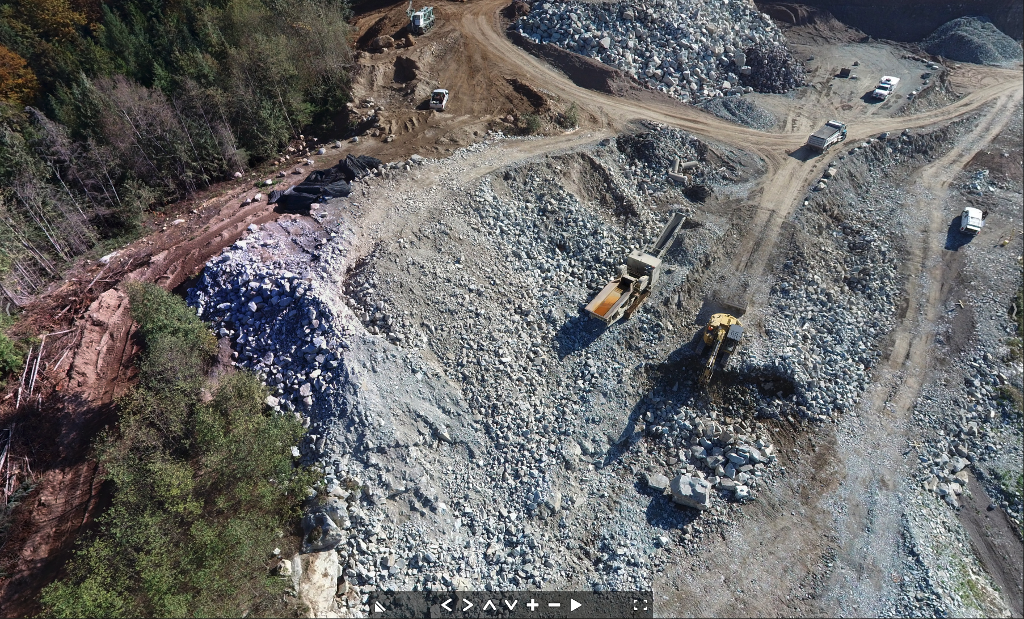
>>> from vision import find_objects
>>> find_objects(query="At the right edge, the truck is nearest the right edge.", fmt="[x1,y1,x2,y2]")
[957,202,992,233]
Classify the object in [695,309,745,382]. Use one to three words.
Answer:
work vehicle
